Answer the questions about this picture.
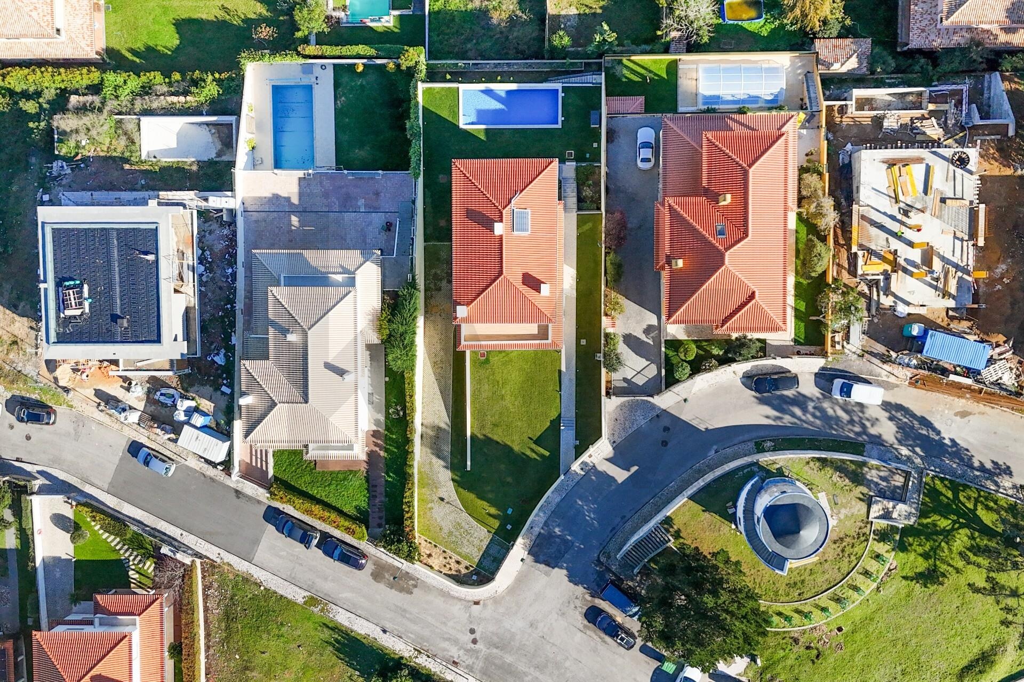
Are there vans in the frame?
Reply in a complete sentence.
Yes, the image includes a van.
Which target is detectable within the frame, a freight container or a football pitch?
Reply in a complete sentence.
It is a freight container that can be seen here.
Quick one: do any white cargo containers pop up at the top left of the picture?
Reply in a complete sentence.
No, the scene shows no white cargo container at the top left of the picture.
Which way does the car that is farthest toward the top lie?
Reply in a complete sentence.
I'd say the car that is farthest toward the top is aligned from top to bottom in the picture.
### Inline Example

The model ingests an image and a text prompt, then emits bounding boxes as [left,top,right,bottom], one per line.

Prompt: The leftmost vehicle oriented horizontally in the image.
[16,403,61,425]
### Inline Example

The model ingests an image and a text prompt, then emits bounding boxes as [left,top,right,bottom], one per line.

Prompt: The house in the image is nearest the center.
[451,157,564,351]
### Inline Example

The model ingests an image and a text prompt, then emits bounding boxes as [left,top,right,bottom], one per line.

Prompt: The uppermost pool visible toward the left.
[344,0,393,26]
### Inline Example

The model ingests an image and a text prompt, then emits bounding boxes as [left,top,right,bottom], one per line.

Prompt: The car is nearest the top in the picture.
[635,128,657,171]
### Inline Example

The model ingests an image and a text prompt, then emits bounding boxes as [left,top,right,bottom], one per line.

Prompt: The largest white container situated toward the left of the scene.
[177,422,234,462]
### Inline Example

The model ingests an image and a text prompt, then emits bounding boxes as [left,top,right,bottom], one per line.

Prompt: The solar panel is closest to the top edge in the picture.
[511,192,531,234]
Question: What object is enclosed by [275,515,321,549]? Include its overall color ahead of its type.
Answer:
blue car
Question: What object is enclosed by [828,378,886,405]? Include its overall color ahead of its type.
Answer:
white vehicle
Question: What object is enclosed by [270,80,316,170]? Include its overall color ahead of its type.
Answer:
blue swimming pool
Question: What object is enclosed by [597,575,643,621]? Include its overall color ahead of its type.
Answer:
blue van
